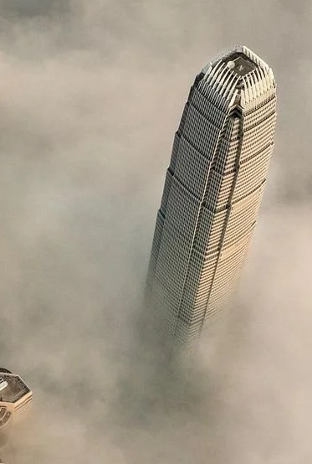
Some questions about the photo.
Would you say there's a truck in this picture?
No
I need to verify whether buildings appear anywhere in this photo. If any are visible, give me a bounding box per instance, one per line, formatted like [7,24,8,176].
[129,43,284,460]
[0,362,32,464]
